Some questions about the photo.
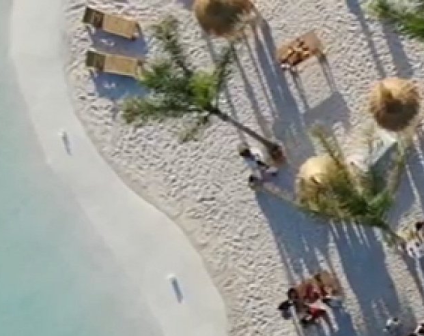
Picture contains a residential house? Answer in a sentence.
No, the frame has no residential house in it.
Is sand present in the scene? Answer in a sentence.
Yes, there is sand in the image.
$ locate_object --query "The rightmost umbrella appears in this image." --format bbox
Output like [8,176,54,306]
[368,79,423,133]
